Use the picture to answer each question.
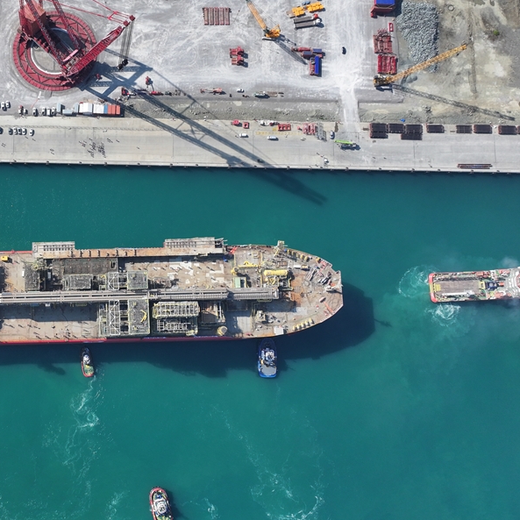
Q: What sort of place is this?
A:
port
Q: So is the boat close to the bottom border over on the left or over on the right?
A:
left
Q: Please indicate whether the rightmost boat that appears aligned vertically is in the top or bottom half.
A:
bottom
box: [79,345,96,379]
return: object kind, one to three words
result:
boat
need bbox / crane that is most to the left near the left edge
[12,0,138,90]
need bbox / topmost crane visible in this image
[234,0,290,38]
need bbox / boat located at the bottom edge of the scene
[149,486,174,520]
